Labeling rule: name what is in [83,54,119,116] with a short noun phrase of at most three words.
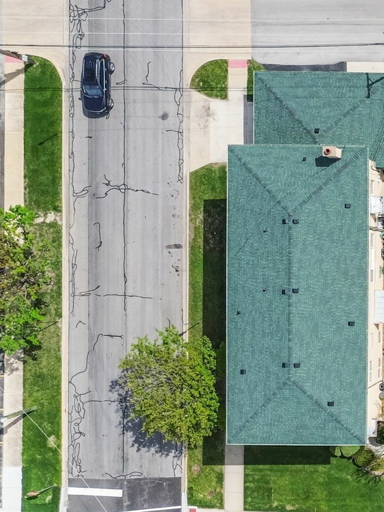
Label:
car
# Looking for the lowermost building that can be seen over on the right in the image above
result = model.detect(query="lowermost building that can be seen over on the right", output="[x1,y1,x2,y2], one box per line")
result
[225,144,384,447]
